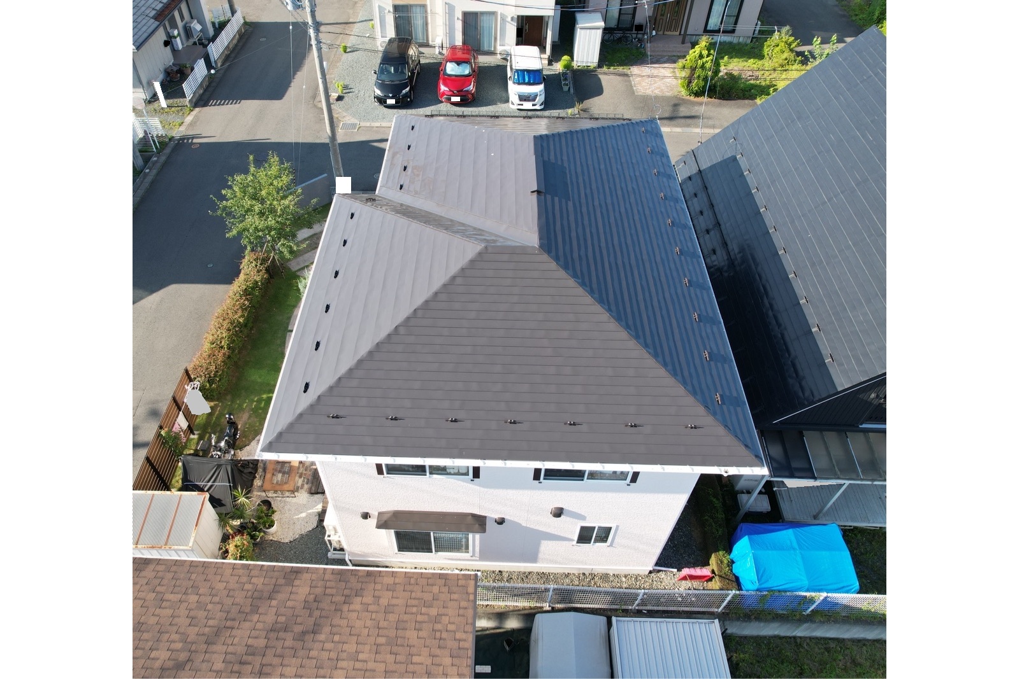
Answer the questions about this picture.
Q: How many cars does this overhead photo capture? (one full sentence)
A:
Looking from above, you can make out 3 cars.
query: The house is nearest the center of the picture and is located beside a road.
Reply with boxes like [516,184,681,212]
[256,108,768,583]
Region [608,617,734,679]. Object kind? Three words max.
shed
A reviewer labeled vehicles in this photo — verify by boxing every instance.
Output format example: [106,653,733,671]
[434,46,480,105]
[194,388,247,454]
[506,45,550,109]
[369,34,418,106]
